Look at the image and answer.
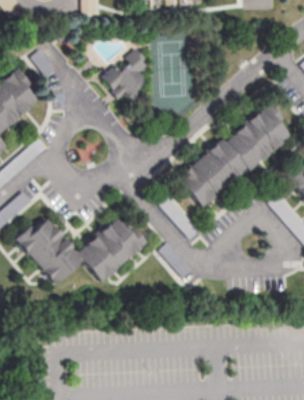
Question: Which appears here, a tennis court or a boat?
tennis court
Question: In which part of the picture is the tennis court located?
top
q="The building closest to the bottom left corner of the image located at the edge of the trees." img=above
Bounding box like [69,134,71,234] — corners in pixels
[17,219,80,285]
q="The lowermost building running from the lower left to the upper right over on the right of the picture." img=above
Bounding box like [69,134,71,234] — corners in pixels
[180,108,294,207]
